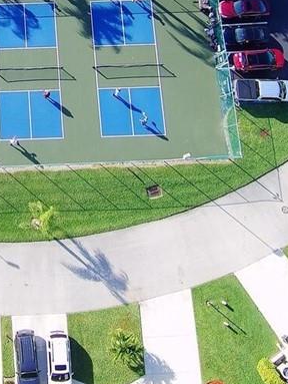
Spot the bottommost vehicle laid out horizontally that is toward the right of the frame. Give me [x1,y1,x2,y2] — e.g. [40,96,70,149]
[232,78,288,103]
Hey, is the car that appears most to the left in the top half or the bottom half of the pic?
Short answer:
bottom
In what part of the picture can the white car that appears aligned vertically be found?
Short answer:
bottom left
